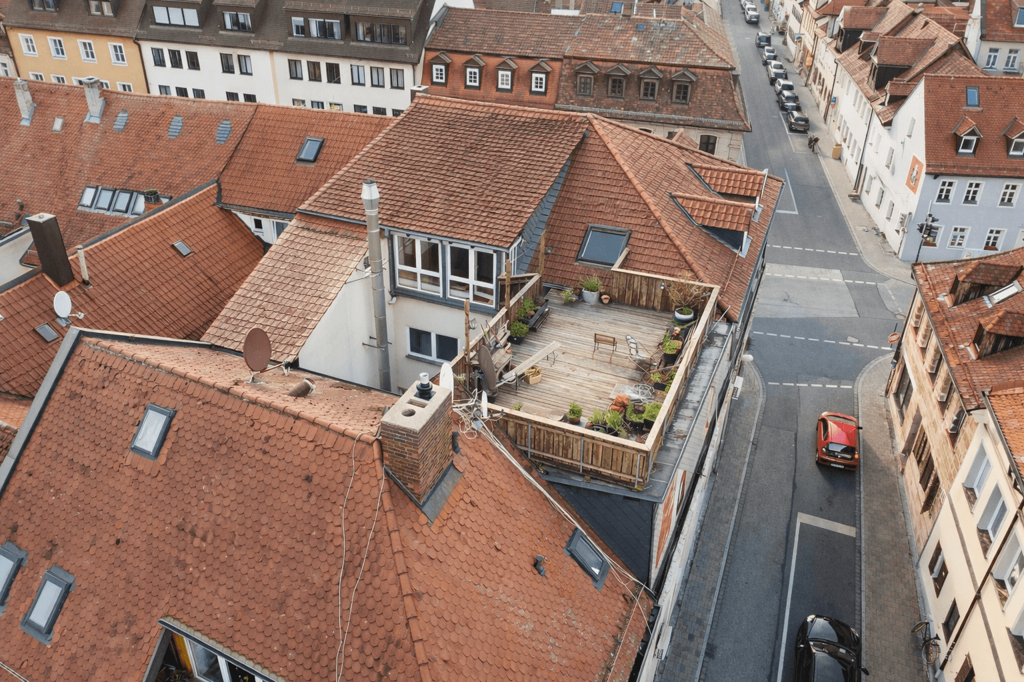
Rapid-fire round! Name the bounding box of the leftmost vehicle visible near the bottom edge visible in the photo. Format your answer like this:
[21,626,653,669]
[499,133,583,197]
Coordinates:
[799,611,871,682]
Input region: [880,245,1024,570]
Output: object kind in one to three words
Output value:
house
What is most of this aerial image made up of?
buildings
